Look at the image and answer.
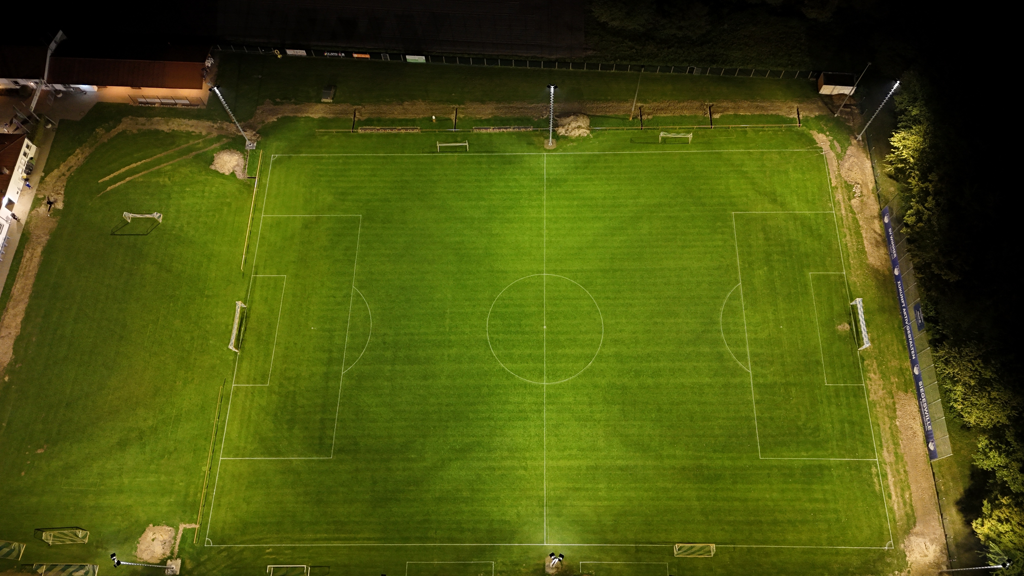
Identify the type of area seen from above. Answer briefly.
sports ground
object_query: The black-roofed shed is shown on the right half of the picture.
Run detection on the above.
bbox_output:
[818,70,856,95]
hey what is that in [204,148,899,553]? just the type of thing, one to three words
soccer field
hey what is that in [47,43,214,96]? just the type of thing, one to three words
building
